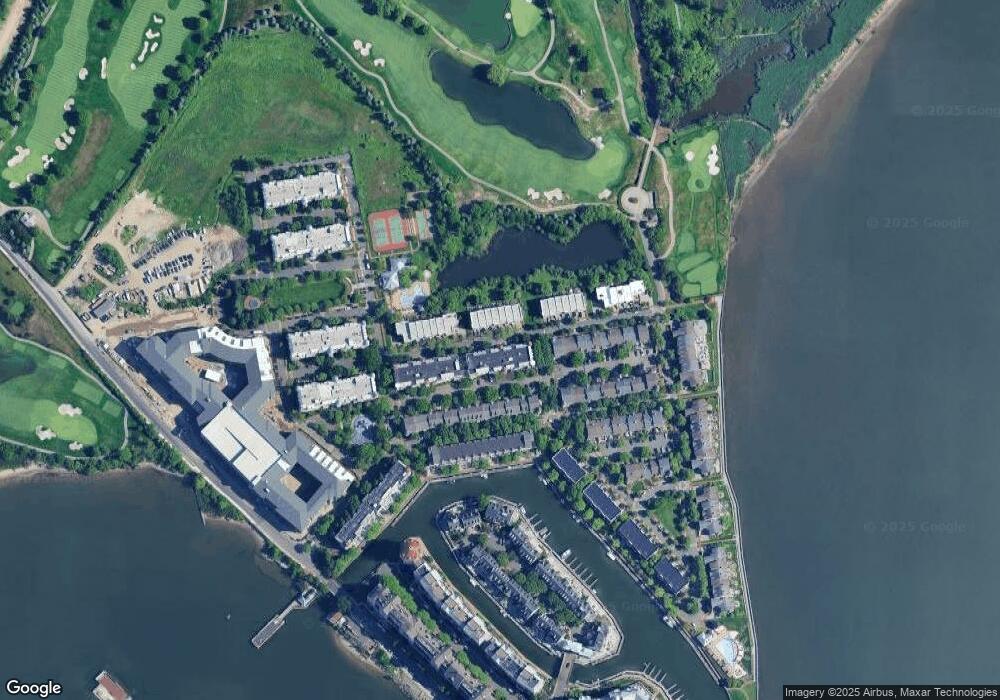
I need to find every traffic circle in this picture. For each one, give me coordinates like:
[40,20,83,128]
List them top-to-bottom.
[616,183,655,219]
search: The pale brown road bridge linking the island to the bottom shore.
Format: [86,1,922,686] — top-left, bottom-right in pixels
[553,650,577,700]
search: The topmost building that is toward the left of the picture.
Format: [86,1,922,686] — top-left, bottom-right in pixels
[263,170,344,209]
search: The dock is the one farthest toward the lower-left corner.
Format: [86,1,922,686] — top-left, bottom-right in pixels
[253,585,317,647]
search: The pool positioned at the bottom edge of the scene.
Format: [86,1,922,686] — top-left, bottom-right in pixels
[706,626,746,678]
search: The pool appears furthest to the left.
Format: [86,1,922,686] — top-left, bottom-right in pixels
[391,280,431,314]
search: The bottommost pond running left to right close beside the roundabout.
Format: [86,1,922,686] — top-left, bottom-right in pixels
[438,221,626,290]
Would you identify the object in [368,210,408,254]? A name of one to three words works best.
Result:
tennis court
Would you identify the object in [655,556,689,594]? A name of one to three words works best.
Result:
building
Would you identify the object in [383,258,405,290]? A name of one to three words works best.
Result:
building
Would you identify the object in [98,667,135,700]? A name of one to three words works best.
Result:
ship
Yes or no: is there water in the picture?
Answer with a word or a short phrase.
Yes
